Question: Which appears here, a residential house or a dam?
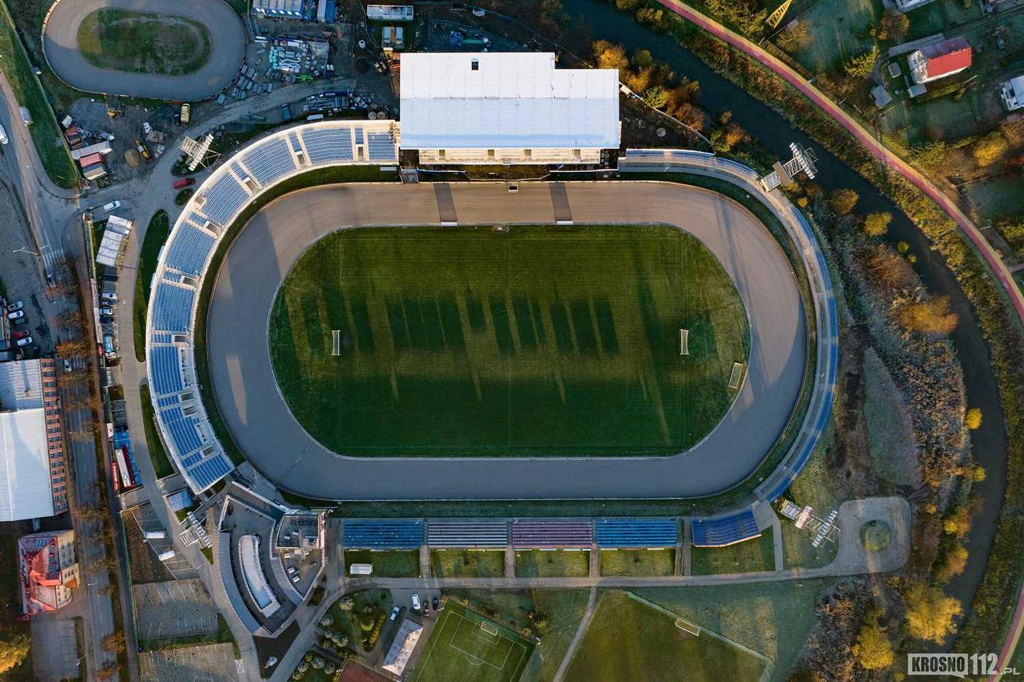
residential house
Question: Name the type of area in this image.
sports ground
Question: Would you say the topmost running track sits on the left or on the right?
left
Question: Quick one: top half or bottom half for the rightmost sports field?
bottom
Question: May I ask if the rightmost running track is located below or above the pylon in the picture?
below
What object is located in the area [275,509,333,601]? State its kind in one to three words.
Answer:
building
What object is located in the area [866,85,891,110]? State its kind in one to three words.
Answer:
shed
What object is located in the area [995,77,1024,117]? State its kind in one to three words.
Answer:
house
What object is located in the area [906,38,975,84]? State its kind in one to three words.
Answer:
house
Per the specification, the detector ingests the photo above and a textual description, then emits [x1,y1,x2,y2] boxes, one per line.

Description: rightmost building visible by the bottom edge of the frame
[383,612,425,675]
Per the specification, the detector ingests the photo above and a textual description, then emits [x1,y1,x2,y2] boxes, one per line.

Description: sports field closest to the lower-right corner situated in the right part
[567,591,769,682]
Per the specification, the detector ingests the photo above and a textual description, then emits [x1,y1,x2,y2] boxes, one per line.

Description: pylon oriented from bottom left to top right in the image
[765,0,795,30]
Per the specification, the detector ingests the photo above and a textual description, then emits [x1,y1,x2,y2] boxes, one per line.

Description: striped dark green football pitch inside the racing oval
[270,224,750,459]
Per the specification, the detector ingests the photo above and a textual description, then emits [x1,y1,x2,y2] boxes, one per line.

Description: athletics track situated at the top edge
[40,0,246,101]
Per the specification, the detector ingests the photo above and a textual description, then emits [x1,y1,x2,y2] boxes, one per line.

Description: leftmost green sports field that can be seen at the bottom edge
[403,603,539,682]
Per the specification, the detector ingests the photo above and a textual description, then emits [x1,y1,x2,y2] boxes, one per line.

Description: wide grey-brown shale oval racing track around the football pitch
[207,179,810,502]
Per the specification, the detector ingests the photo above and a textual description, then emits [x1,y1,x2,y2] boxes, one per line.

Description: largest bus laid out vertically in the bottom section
[117,446,139,488]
